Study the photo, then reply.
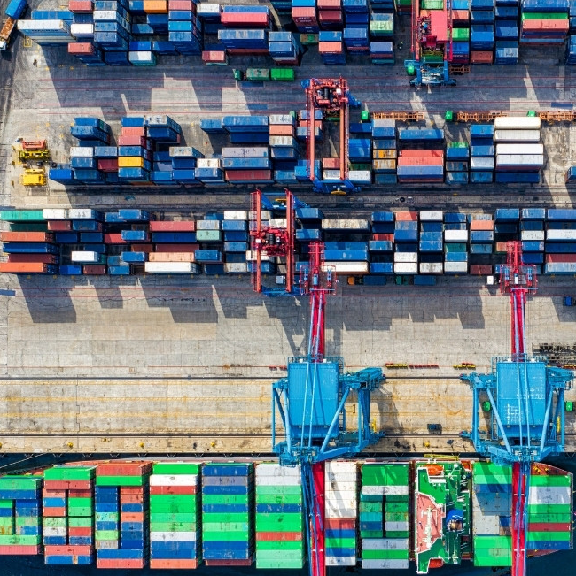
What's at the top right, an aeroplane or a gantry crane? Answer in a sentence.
Visible at the top right is a gantry crane.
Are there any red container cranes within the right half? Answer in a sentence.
Yes, there is a red container crane within the right half.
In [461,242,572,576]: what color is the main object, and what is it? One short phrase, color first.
blue container crane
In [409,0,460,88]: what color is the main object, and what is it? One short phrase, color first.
red container crane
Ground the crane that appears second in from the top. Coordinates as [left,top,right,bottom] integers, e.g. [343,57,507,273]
[304,77,366,194]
